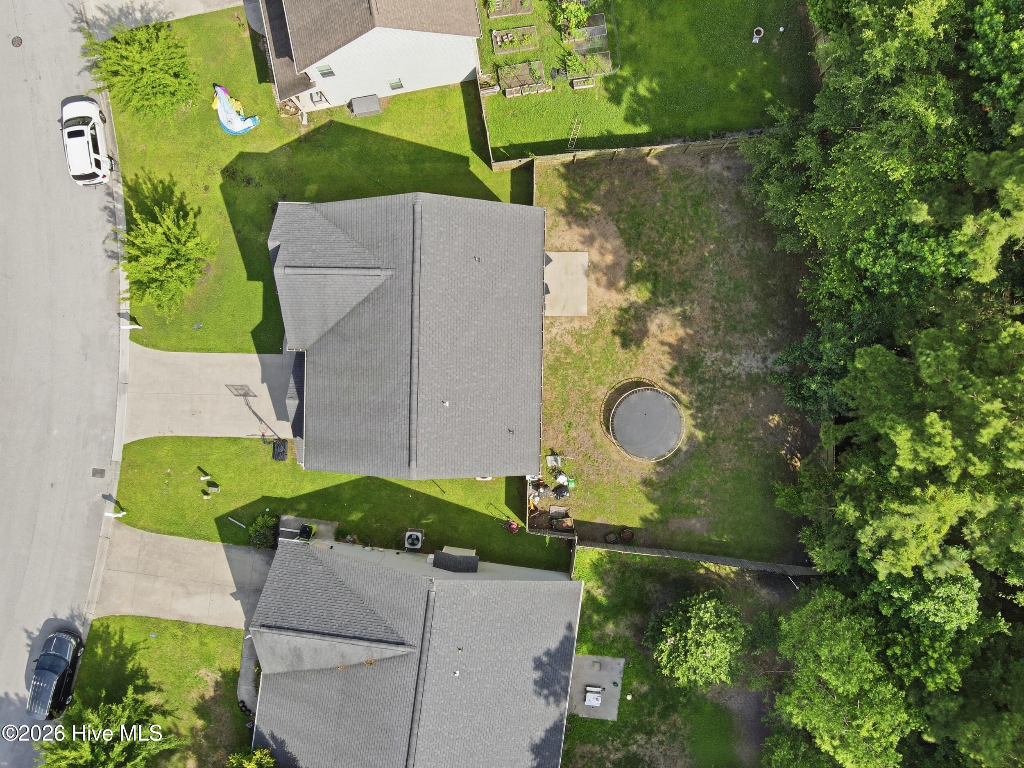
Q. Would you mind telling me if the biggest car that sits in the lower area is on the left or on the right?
left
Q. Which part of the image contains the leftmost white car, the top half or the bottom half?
top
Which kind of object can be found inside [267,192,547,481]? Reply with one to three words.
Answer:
house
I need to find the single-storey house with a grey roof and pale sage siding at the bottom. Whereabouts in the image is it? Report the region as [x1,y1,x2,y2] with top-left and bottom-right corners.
[247,532,585,768]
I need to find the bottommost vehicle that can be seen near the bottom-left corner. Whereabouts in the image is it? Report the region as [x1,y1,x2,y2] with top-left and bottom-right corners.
[23,625,89,724]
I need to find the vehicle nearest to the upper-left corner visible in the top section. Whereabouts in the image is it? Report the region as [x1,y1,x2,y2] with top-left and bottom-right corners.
[59,100,114,191]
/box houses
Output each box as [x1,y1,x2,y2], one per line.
[247,532,585,768]
[257,0,484,120]
[267,192,547,481]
